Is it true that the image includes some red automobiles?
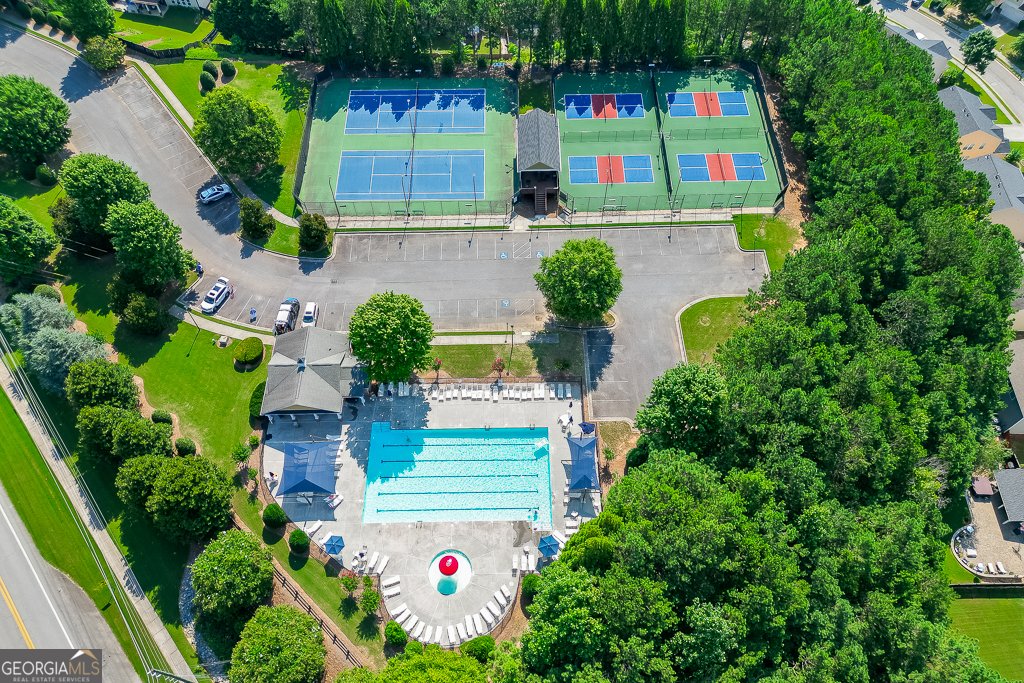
No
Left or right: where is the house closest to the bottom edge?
right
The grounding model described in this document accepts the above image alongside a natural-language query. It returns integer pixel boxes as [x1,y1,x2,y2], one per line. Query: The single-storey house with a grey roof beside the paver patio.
[985,464,1024,528]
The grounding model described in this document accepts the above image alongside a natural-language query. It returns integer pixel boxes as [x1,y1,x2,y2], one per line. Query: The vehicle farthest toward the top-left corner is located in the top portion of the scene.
[197,184,229,202]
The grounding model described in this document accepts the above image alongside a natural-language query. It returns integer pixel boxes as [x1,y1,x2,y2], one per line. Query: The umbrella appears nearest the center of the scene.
[578,417,594,434]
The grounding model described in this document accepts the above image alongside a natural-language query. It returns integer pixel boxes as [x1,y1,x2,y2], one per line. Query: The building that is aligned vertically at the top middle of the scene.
[515,103,562,214]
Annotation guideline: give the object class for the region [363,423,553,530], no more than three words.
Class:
swimming pool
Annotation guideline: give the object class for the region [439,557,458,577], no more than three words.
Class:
fountain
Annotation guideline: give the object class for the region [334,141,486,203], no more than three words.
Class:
tennis court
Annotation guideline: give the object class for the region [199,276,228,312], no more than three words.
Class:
car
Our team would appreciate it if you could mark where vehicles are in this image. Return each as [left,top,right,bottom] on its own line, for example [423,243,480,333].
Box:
[199,276,228,312]
[197,184,229,202]
[911,0,924,5]
[299,300,319,326]
[270,298,301,333]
